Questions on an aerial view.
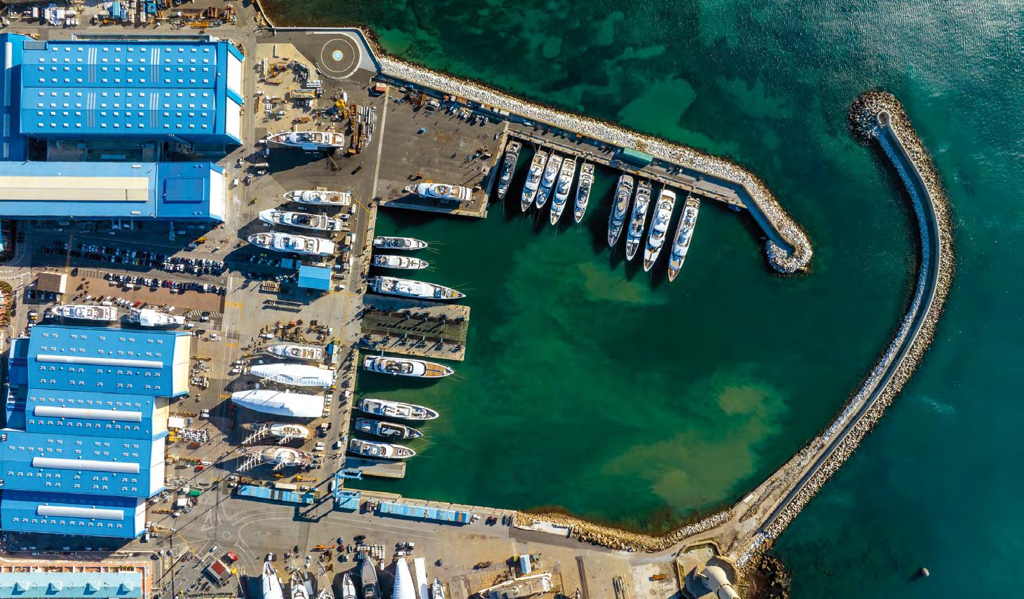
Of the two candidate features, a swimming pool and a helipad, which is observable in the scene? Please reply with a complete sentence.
It is a helipad that can be seen here.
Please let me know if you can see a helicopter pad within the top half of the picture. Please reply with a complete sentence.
Yes, the scene does show a helicopter pad within the top half of the picture.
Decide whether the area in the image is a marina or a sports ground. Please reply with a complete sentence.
The picture captures a marina.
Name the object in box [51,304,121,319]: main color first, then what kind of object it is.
white boat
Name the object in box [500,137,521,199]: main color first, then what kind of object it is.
gray boat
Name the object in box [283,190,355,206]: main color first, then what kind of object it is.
white boat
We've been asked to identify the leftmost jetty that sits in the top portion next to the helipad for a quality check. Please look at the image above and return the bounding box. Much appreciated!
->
[373,76,510,218]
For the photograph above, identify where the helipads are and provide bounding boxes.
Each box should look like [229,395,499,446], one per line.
[314,31,363,80]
